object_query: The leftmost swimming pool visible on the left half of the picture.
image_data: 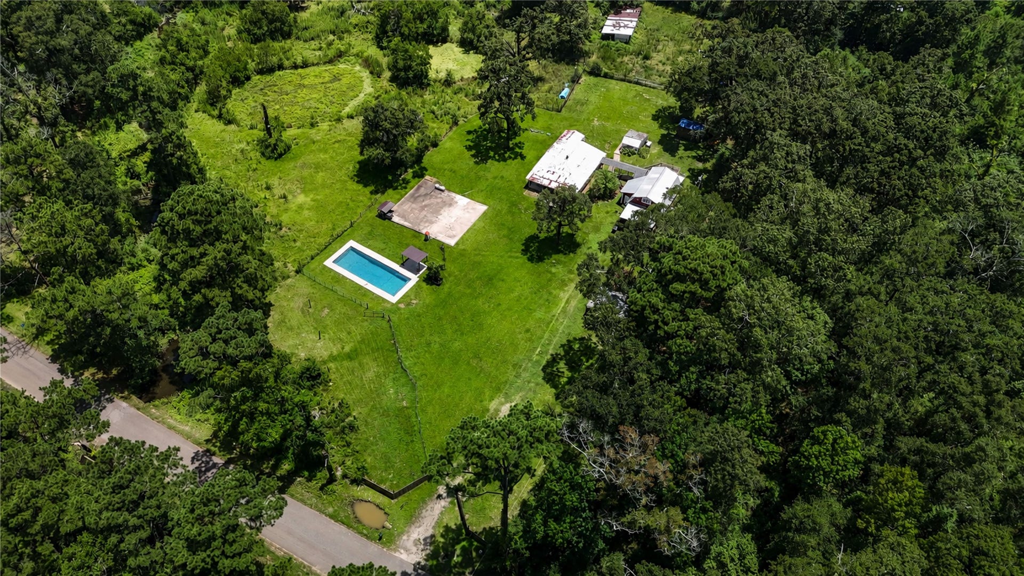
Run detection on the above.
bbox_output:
[323,240,420,304]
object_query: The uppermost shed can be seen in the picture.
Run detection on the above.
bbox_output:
[602,6,633,44]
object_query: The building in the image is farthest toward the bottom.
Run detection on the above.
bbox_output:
[400,245,429,275]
